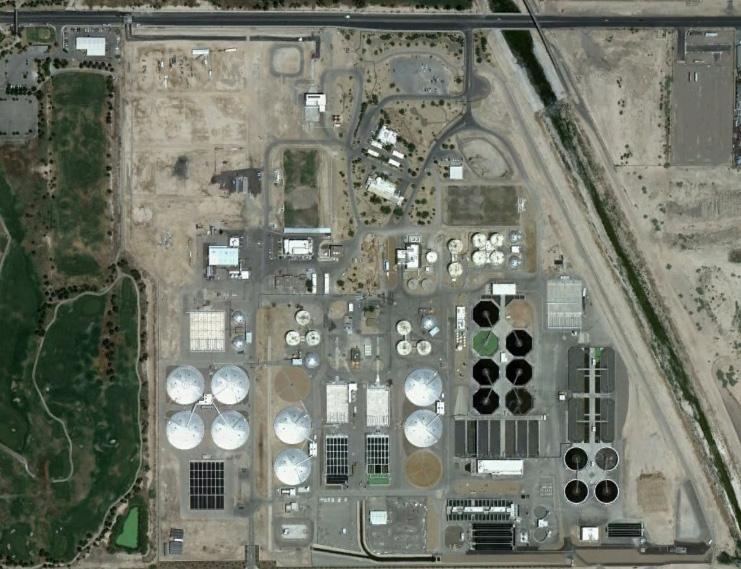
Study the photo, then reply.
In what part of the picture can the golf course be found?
left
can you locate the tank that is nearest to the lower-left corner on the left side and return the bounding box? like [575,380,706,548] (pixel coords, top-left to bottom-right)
[166,410,204,449]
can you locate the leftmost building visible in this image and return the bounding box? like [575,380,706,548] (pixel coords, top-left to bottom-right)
[75,37,105,56]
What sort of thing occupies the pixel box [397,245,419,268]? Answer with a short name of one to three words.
building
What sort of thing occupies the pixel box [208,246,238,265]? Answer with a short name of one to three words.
building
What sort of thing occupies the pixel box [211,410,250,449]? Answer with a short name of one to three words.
storage tank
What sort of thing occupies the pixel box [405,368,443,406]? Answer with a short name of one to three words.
storage tank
